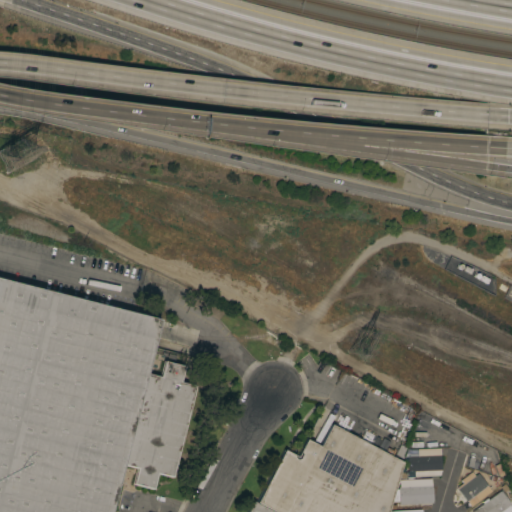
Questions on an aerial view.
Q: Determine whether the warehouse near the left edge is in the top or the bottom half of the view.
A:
bottom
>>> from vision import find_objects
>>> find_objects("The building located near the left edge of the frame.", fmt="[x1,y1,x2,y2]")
[0,277,169,512]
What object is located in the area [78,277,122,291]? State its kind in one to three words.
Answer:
vehicle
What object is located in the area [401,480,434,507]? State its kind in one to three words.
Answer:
shed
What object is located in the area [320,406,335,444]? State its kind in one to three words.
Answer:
vehicle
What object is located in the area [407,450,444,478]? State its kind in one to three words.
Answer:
building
